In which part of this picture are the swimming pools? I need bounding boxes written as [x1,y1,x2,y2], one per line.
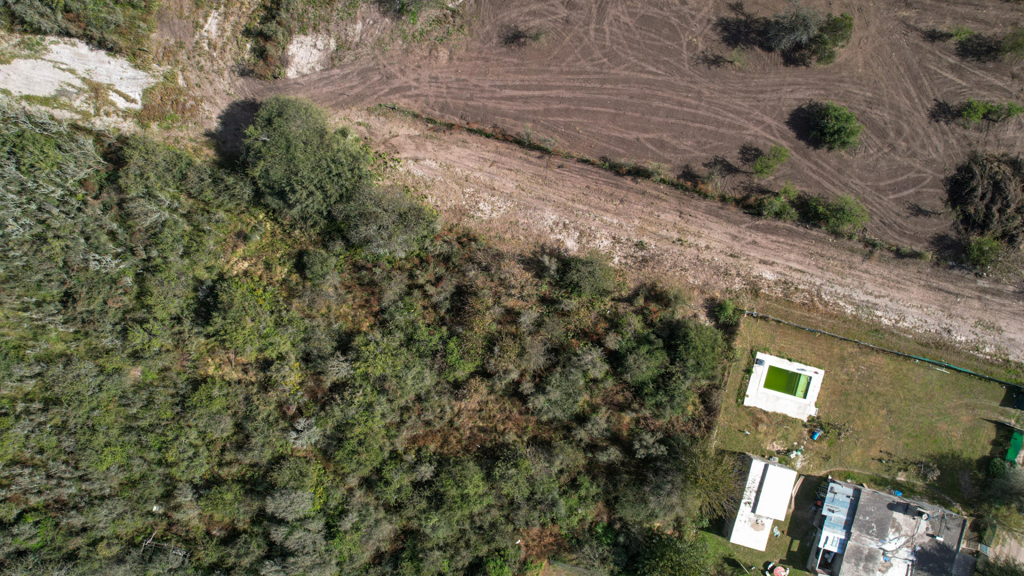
[744,352,824,422]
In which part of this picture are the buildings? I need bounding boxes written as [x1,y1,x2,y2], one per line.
[805,479,977,576]
[724,455,797,551]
